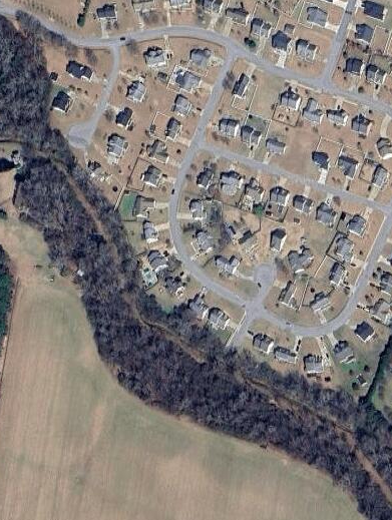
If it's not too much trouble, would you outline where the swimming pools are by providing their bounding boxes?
[141,270,157,287]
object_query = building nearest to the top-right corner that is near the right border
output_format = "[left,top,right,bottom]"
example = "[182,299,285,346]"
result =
[361,0,385,20]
